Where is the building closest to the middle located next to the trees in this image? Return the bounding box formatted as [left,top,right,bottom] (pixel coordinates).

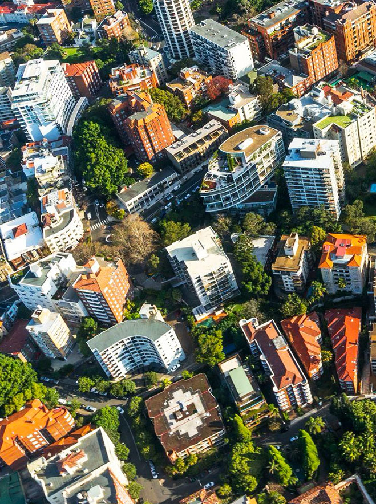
[165,227,241,311]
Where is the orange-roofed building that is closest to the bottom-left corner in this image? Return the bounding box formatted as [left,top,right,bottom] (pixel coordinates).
[0,397,94,482]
